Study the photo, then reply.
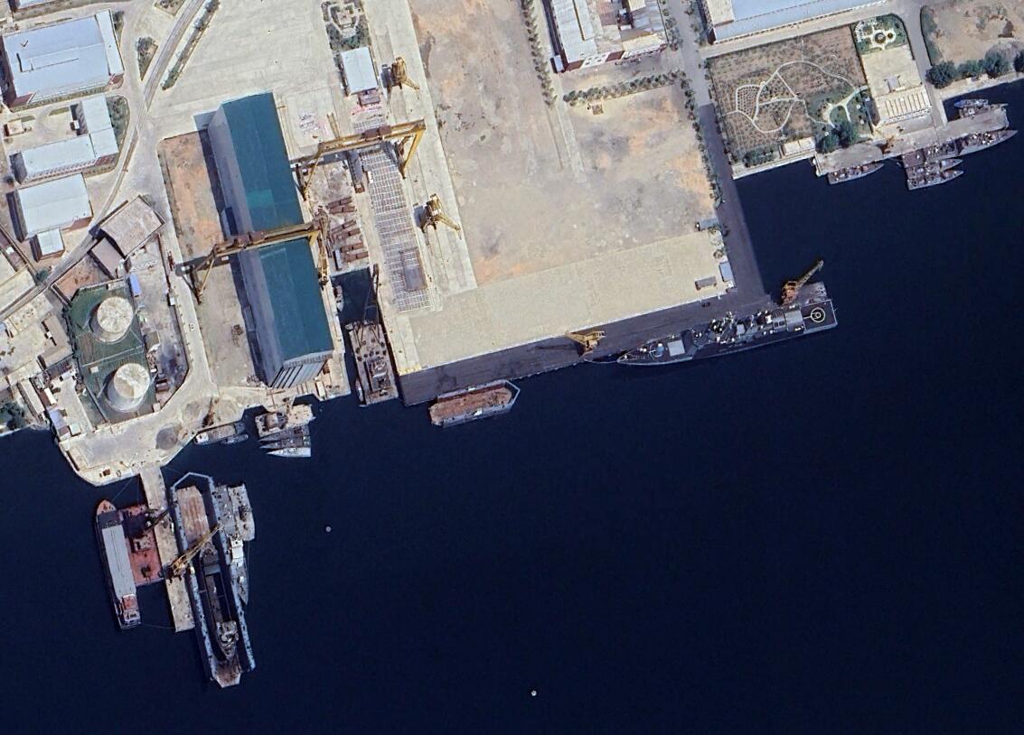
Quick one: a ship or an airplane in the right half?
ship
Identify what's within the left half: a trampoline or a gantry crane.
gantry crane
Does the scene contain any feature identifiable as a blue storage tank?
No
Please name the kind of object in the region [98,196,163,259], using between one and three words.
shed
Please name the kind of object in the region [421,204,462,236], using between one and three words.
crane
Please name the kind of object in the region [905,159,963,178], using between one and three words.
ship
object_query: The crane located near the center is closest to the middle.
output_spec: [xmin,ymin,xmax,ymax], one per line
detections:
[560,330,604,362]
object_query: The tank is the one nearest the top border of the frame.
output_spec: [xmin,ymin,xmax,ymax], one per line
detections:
[87,301,134,350]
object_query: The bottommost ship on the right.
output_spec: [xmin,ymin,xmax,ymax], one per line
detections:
[619,301,838,364]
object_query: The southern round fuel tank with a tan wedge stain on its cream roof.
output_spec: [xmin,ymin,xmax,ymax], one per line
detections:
[103,364,150,413]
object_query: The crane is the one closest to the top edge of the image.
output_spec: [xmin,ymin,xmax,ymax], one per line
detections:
[388,61,421,95]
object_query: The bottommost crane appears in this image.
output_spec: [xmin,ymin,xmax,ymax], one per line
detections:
[166,526,221,588]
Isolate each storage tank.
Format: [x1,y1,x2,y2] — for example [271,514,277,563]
[103,364,150,413]
[87,301,134,350]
